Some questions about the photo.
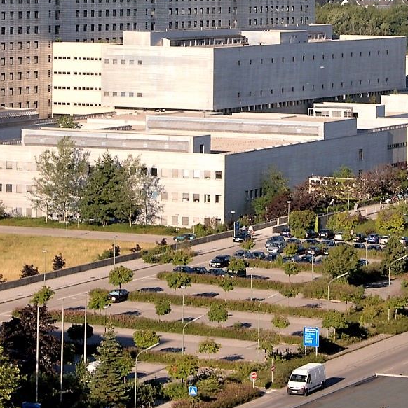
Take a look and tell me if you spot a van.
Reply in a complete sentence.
Yes, a van is visible in the scene.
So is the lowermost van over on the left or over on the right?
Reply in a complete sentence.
You can find the lowermost van on the right side of the picture.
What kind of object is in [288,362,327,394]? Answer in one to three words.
van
